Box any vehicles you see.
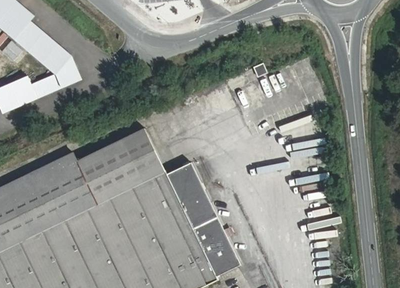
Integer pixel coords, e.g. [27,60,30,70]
[300,216,343,233]
[270,74,282,92]
[258,121,270,129]
[214,201,228,208]
[312,250,330,258]
[303,192,327,202]
[350,124,356,137]
[308,166,319,172]
[307,207,333,218]
[314,268,332,276]
[310,241,330,249]
[315,278,334,286]
[285,138,328,152]
[235,244,247,249]
[226,278,238,286]
[309,230,339,240]
[267,128,278,136]
[237,90,250,108]
[277,72,286,88]
[294,183,320,194]
[292,170,302,176]
[313,260,332,267]
[218,210,230,216]
[250,162,290,176]
[278,135,294,145]
[310,202,322,208]
[260,78,273,98]
[289,172,330,186]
